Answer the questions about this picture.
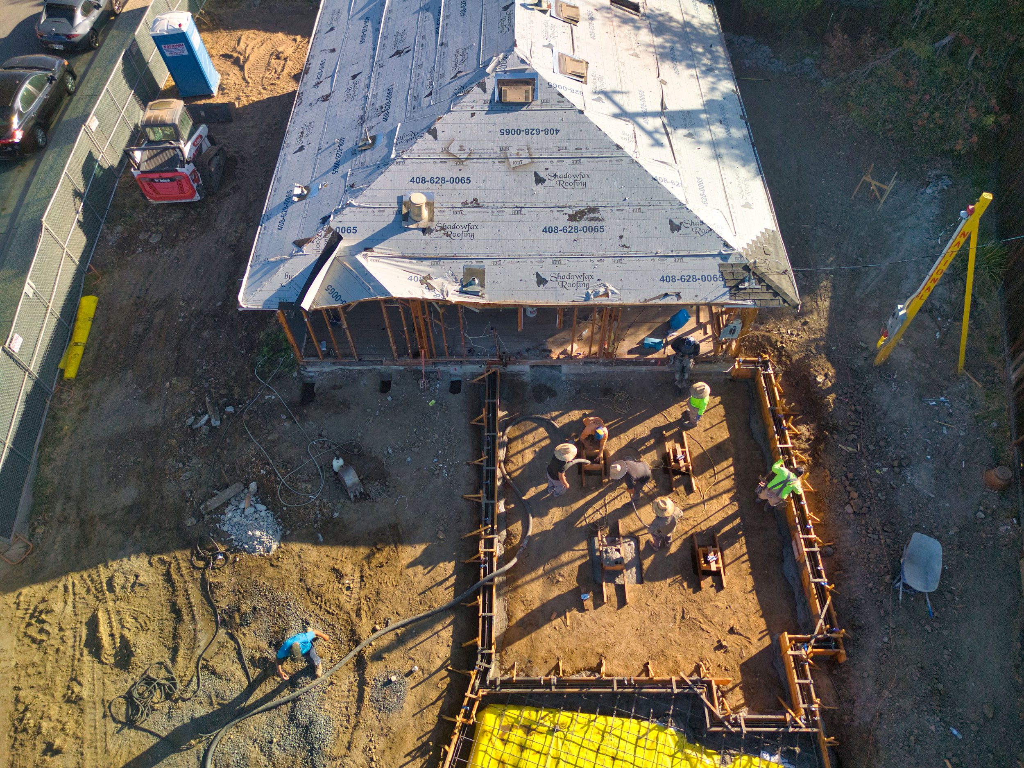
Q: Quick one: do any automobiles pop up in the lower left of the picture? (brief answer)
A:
No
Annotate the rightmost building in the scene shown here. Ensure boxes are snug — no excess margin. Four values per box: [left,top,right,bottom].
[236,0,806,393]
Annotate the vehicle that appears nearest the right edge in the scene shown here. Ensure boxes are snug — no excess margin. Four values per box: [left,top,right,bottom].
[108,87,239,199]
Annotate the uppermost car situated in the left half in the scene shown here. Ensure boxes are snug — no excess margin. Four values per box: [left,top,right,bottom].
[23,0,125,55]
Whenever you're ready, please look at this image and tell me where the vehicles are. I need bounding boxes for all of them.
[0,54,76,154]
[23,0,125,55]
[108,87,239,199]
